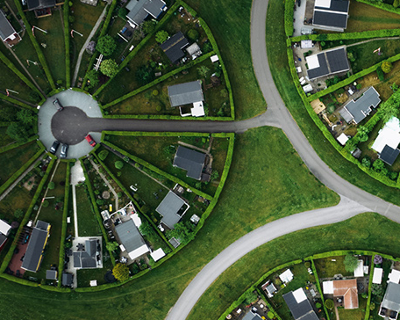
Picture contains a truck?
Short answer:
No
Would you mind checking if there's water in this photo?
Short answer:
No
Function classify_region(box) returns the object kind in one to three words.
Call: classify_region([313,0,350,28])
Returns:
house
